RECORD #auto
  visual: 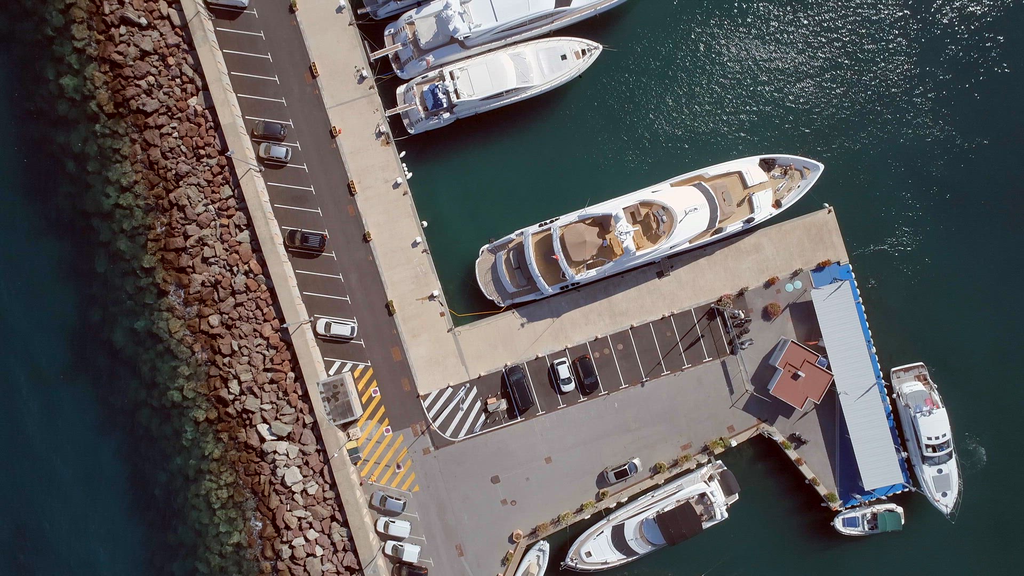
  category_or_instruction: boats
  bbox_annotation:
[385,35,603,136]
[882,360,965,522]
[365,0,634,83]
[560,456,739,569]
[357,0,437,26]
[514,538,550,576]
[475,154,824,306]
[828,501,904,537]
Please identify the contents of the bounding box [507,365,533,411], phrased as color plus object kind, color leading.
black vehicle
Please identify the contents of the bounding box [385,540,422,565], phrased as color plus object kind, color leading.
white vehicle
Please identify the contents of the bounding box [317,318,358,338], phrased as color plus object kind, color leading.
white car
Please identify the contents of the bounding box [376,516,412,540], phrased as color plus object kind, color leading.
white vehicle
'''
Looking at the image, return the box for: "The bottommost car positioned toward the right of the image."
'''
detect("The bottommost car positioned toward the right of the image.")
[603,457,642,484]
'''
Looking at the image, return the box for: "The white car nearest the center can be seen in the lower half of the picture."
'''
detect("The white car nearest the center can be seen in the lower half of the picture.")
[553,357,574,393]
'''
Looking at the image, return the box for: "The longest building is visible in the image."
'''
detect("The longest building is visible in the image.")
[805,280,904,491]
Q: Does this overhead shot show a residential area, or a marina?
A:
marina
